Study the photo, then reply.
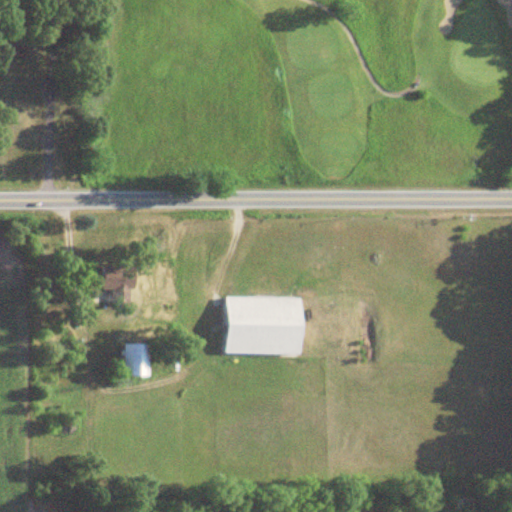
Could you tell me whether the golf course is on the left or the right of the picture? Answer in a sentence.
The golf course appears in the right half of the scene.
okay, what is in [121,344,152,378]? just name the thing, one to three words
shed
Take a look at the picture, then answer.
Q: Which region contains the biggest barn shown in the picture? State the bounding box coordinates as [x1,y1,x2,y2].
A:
[224,296,305,357]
